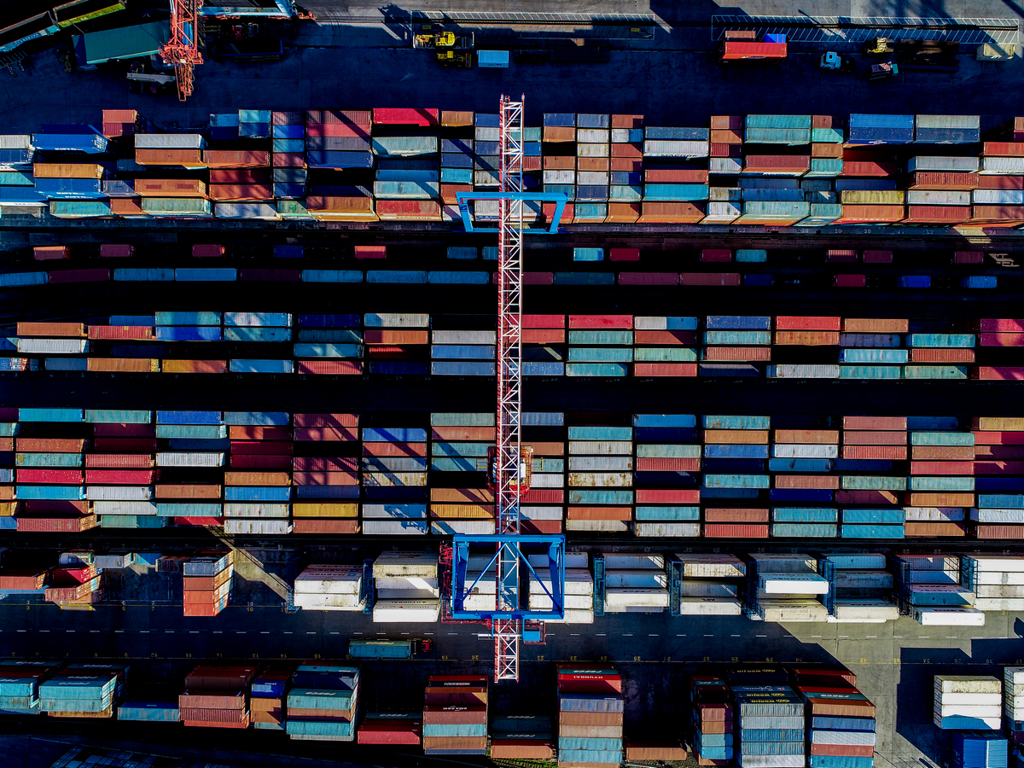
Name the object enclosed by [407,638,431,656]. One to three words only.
vehicle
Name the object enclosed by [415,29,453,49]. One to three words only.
work vehicle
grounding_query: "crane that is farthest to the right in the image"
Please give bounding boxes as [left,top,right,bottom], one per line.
[440,94,573,688]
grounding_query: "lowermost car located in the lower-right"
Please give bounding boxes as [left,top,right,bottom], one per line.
[1007,737,1021,758]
